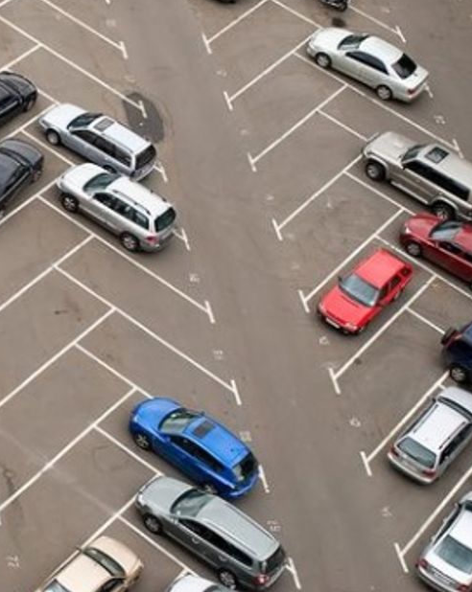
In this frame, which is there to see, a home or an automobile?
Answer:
automobile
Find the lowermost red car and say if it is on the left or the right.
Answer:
right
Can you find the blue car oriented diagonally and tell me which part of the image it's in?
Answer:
bottom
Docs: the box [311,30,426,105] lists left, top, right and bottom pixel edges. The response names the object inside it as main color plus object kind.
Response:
white car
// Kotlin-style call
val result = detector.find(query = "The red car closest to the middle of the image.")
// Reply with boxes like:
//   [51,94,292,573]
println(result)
[319,250,413,337]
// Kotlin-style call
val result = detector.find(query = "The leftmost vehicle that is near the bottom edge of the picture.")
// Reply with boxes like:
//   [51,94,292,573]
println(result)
[43,538,147,592]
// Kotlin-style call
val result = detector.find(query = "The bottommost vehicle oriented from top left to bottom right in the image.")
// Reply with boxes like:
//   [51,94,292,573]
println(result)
[138,477,291,592]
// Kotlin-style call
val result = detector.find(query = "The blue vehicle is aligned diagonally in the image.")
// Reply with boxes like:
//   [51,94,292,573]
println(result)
[128,398,265,503]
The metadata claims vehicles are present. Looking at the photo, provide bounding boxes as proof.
[361,132,472,223]
[319,250,413,337]
[128,398,265,503]
[434,313,472,385]
[59,167,181,255]
[138,477,291,592]
[0,68,42,127]
[0,141,50,215]
[43,538,147,592]
[311,30,426,105]
[155,569,235,592]
[417,493,472,592]
[38,101,163,185]
[400,213,472,286]
[389,385,472,484]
